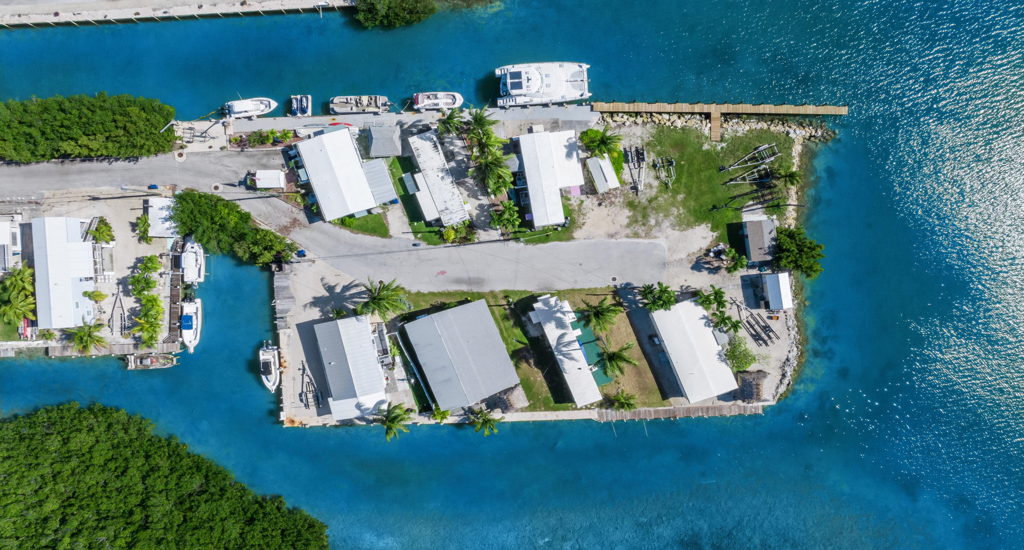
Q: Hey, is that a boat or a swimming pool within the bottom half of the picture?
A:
boat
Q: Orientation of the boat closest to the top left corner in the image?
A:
from side to side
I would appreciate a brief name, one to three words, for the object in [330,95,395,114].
boat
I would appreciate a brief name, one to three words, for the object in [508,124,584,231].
house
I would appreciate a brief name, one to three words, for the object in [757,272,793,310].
shed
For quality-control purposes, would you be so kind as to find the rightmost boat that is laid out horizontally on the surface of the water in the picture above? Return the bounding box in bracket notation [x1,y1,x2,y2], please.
[496,62,592,106]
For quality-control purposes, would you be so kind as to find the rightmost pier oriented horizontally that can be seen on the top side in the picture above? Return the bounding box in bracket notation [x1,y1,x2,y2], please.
[593,101,850,116]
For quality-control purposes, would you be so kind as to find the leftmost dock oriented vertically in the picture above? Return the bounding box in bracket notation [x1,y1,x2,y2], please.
[170,240,184,343]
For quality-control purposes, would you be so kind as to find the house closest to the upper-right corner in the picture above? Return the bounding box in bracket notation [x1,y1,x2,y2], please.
[739,215,776,261]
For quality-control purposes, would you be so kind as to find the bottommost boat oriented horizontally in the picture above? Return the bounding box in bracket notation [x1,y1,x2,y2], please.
[119,354,180,370]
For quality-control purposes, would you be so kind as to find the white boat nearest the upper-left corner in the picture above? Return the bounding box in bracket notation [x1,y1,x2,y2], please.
[225,93,279,118]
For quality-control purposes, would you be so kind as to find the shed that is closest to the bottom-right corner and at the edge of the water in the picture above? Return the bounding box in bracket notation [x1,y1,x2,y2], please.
[735,372,772,405]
